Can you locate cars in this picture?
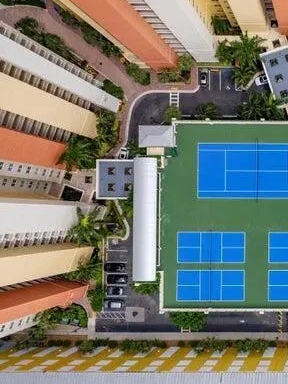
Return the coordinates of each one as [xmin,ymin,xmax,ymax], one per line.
[104,261,127,273]
[106,273,129,285]
[250,74,270,86]
[103,297,127,309]
[107,286,123,296]
[198,67,209,91]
